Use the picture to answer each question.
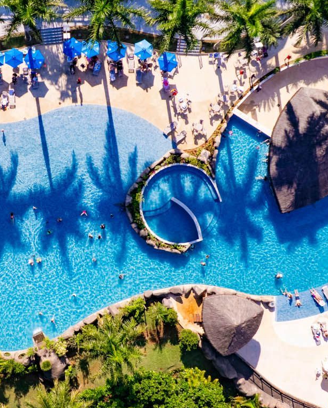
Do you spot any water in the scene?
Yes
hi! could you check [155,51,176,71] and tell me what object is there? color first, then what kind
blue umbrella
